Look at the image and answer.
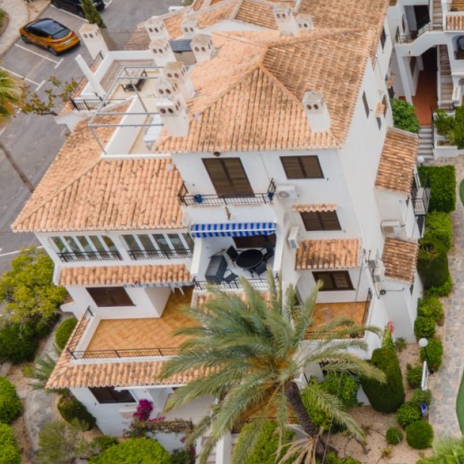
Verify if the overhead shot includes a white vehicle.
No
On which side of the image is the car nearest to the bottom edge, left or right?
left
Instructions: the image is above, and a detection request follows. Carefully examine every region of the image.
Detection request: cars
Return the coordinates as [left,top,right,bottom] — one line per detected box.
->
[51,0,91,19]
[24,24,71,57]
